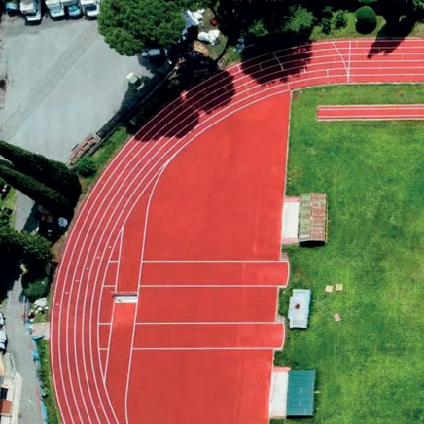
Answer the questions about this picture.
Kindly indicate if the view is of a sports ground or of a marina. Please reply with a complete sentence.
The picture captures a sports ground.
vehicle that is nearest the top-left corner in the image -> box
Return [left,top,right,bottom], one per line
[2,1,26,16]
